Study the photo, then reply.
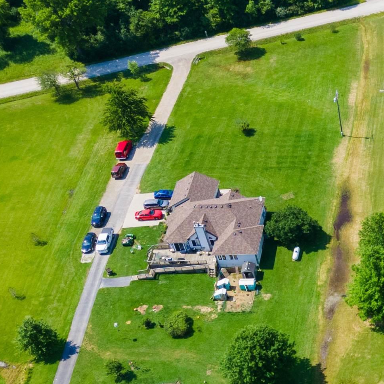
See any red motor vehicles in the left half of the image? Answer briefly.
Yes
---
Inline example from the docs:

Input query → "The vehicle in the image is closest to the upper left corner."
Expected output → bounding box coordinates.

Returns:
[113,140,132,158]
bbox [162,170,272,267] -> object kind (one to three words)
house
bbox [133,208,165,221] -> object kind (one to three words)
vehicle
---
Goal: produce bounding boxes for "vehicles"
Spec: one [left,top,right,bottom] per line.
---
[133,208,165,221]
[109,164,127,180]
[89,204,108,227]
[93,227,115,252]
[78,233,97,253]
[140,196,169,209]
[113,140,132,158]
[149,189,172,199]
